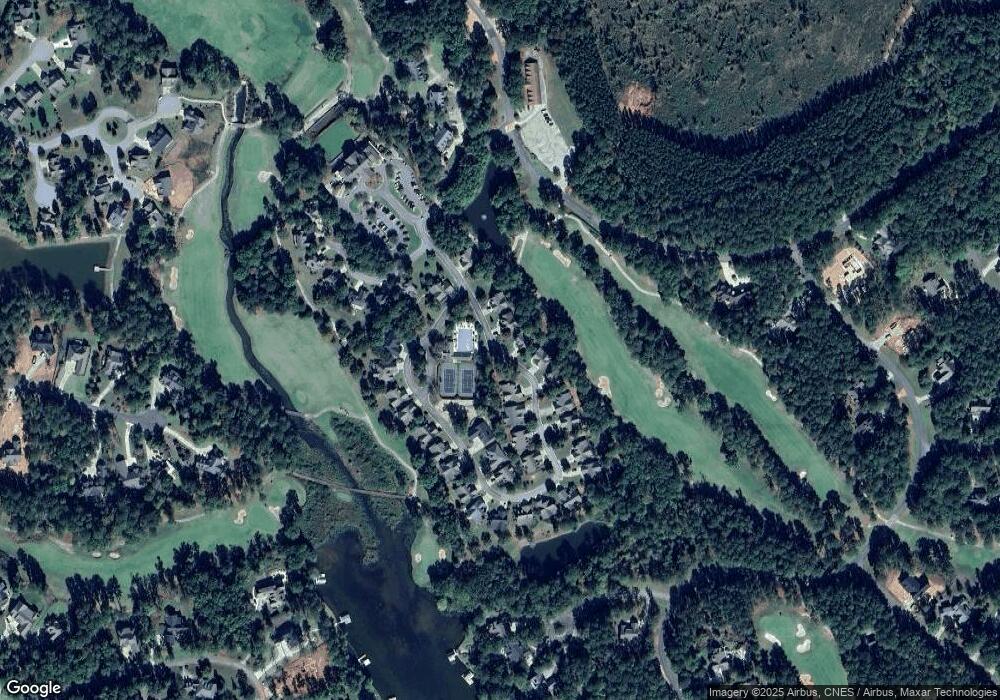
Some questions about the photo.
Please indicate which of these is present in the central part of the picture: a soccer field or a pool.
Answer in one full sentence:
Looking in the central part of the picture, you will find a pool.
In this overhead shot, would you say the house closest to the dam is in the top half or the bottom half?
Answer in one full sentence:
The house closest to the dam sits in the top half of the picture.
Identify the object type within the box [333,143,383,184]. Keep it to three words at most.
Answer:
building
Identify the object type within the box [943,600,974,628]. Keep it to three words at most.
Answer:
house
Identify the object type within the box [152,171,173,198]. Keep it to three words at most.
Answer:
house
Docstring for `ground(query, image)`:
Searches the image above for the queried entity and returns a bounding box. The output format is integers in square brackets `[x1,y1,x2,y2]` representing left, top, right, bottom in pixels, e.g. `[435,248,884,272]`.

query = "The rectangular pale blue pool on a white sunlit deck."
[452,321,479,352]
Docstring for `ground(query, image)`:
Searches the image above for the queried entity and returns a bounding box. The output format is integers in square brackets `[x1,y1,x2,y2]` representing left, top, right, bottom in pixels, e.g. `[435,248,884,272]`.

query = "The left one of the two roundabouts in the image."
[93,108,134,149]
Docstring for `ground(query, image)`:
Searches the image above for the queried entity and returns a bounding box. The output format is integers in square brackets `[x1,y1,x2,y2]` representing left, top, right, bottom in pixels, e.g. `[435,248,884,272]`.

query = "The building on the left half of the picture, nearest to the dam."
[103,201,130,229]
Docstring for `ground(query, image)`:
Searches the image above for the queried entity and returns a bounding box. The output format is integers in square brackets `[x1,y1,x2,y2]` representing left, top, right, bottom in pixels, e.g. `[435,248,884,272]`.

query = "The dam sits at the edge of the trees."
[105,236,123,293]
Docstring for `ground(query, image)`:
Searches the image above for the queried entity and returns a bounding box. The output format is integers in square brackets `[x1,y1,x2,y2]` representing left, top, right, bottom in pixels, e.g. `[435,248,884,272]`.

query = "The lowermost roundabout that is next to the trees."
[358,165,388,195]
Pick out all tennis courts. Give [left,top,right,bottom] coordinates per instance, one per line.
[459,363,476,397]
[440,363,458,397]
